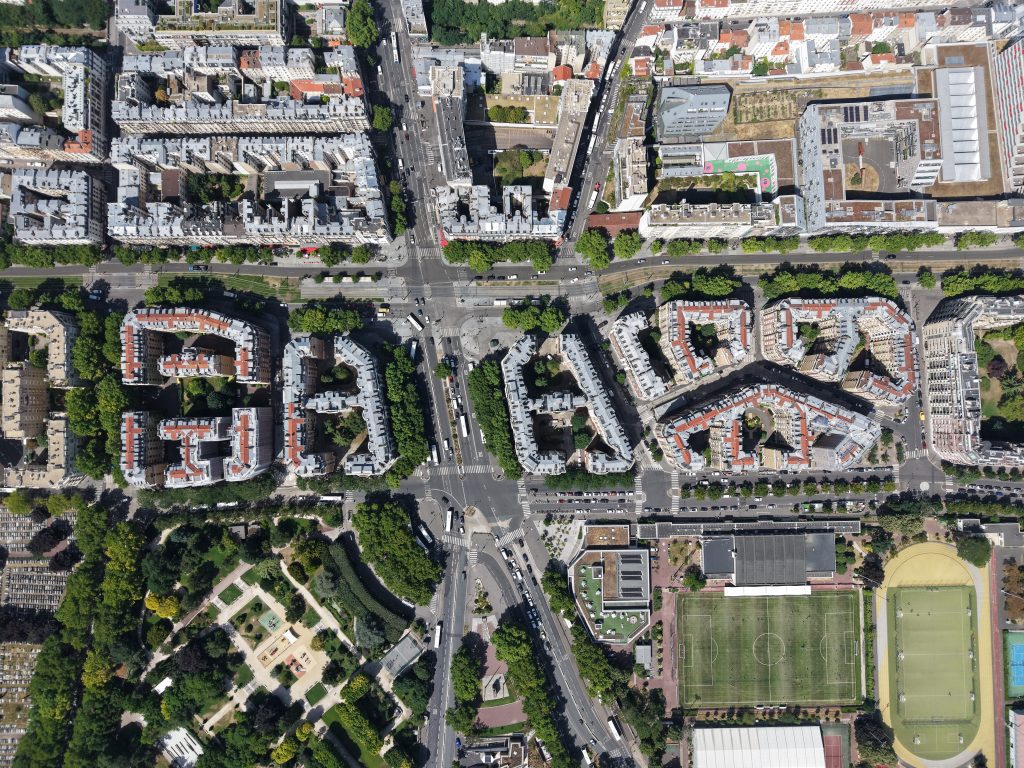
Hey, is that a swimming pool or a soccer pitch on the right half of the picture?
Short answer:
soccer pitch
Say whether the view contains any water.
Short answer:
No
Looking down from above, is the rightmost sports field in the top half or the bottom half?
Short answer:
bottom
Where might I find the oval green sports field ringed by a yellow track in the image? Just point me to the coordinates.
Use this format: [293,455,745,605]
[876,542,993,768]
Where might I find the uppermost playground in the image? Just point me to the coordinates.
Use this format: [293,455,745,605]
[703,155,778,195]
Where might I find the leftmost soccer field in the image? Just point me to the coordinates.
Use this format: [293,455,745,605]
[677,589,864,709]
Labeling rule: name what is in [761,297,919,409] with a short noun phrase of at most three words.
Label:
building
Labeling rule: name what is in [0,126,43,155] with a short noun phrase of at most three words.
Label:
building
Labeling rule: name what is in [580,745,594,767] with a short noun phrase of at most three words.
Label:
vehicle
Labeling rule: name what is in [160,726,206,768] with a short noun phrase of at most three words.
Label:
greenhouse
